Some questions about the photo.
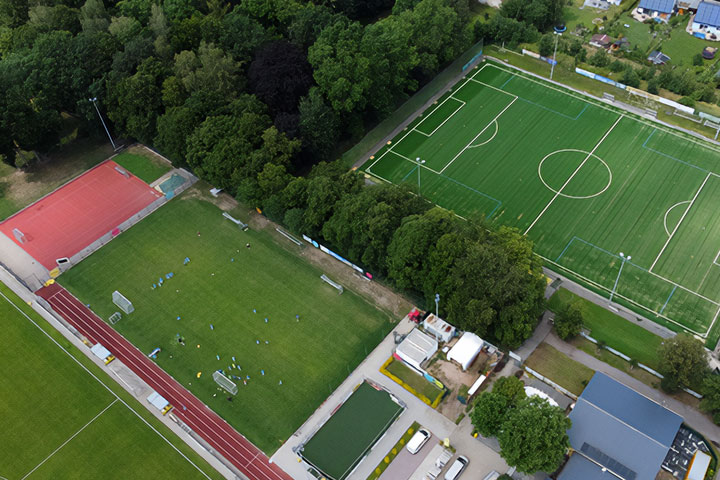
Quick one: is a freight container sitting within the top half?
No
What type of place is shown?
sports ground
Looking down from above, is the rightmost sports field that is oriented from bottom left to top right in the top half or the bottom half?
bottom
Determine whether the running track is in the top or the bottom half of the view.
bottom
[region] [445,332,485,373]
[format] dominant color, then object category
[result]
white tent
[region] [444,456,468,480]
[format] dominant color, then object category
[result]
white car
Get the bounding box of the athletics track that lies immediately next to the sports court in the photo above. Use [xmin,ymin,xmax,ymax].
[35,283,295,480]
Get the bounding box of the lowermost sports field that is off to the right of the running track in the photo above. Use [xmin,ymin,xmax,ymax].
[303,375,404,480]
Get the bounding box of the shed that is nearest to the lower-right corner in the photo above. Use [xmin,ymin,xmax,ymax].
[682,450,713,480]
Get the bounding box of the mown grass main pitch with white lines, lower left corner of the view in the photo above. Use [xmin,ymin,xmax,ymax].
[0,280,226,480]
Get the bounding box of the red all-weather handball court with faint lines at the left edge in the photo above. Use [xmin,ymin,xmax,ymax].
[0,157,165,271]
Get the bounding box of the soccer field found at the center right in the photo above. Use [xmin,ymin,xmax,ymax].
[356,59,720,354]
